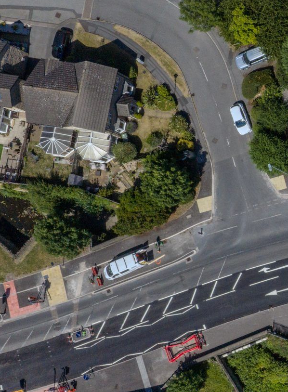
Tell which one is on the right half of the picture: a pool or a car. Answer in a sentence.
The feature located on the right half of the picture is a car.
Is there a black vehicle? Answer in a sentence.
Yes, a black vehicle is visible in the scene.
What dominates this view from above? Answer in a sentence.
The bulk of the photo consists of paved ground.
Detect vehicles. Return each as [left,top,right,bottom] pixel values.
[230,103,253,136]
[50,26,77,61]
[235,49,270,68]
[105,250,156,279]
